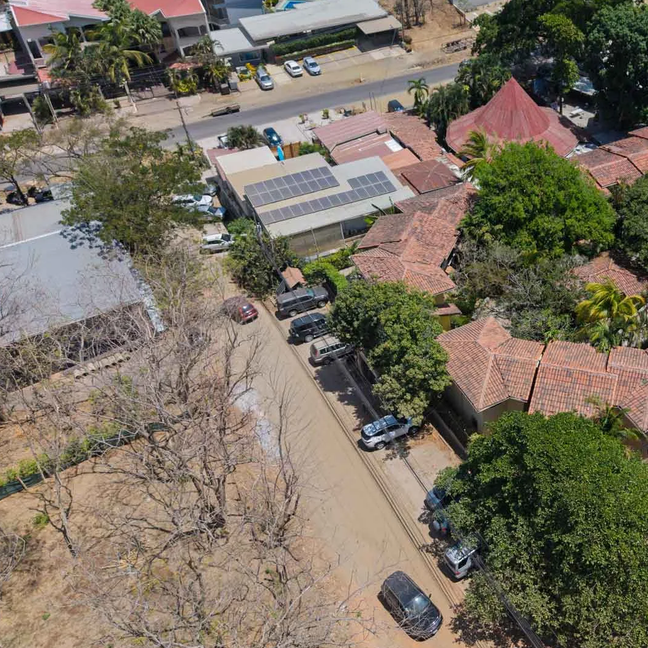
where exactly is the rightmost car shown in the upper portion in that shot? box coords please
[383,88,406,112]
